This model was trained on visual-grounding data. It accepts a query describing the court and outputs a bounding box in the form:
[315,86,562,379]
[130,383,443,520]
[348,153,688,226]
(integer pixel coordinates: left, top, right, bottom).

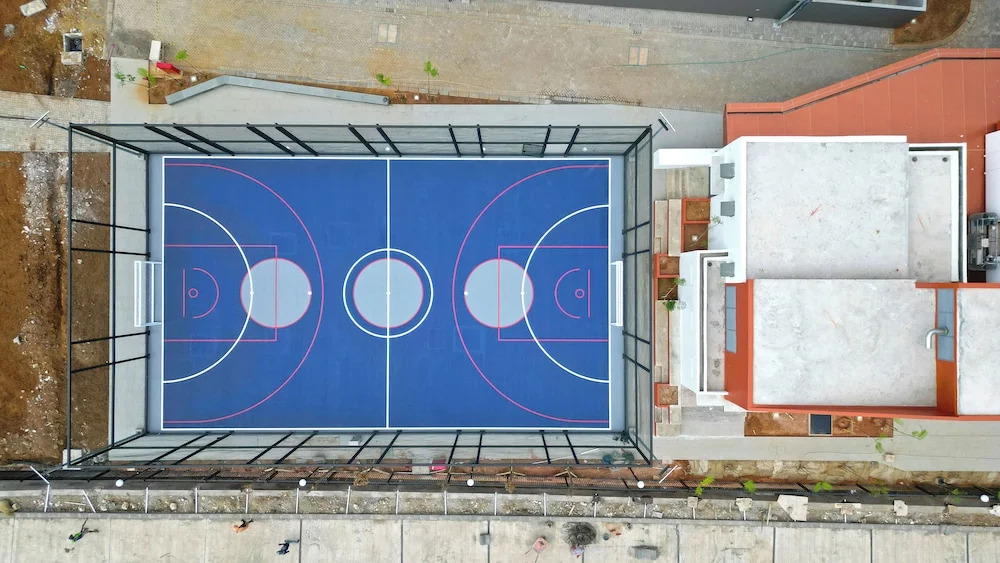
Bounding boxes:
[148,155,623,431]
